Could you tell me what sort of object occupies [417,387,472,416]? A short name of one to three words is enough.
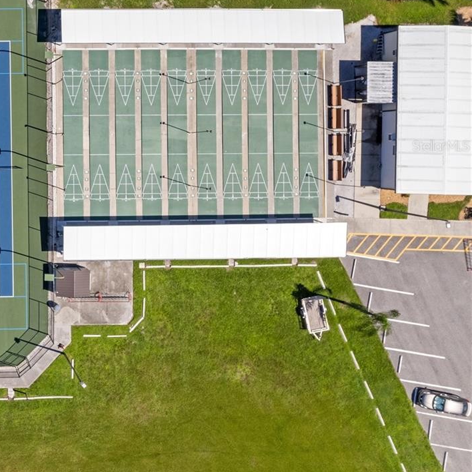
car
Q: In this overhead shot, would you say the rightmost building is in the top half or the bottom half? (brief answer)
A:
top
